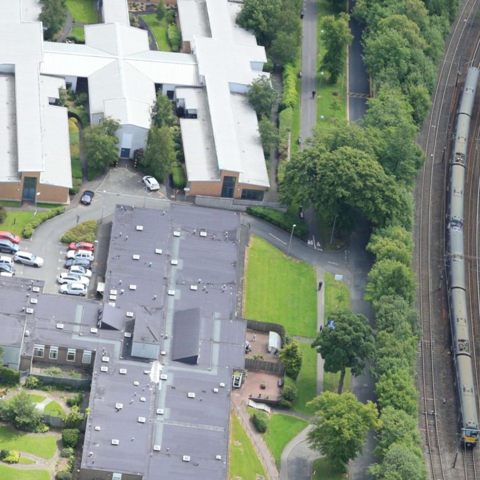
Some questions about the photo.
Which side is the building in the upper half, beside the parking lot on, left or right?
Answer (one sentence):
The building in the upper half, beside the parking lot sits on the left side.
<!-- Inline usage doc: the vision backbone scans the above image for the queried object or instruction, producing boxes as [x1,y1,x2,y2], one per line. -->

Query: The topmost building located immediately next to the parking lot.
[0,0,271,204]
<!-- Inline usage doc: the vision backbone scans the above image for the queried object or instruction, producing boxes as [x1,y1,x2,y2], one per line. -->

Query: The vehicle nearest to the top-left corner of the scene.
[80,190,95,206]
